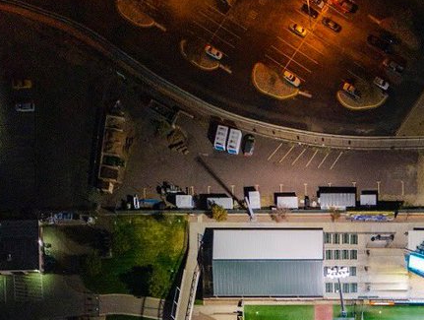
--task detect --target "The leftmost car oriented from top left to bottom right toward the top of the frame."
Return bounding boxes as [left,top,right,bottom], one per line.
[203,45,223,60]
